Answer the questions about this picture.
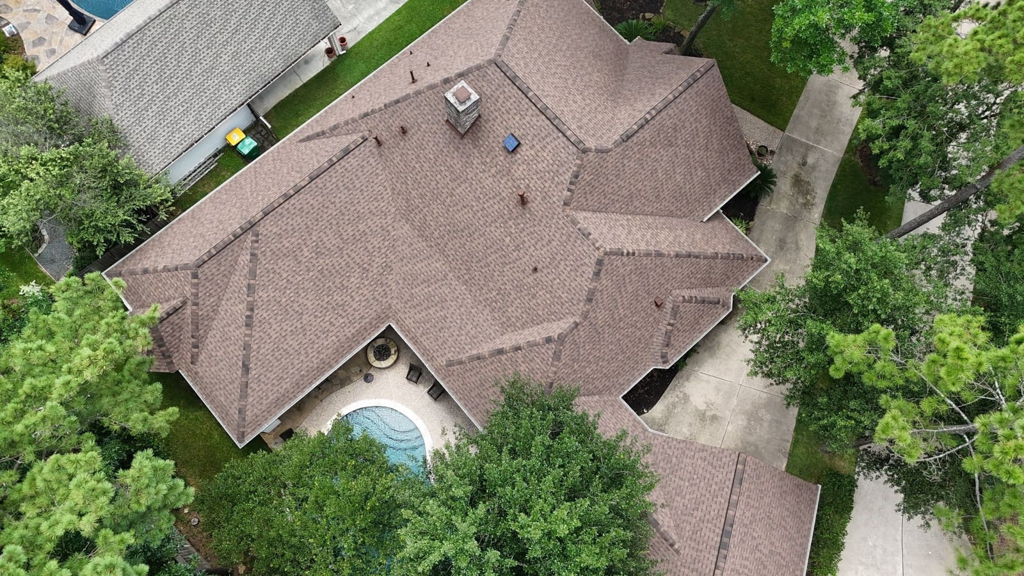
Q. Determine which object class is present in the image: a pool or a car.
pool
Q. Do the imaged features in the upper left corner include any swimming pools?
Yes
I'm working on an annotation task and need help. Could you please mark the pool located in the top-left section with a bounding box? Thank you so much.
[70,0,133,21]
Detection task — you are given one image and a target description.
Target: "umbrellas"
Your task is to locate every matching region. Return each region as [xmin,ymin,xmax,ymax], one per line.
[57,0,94,34]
